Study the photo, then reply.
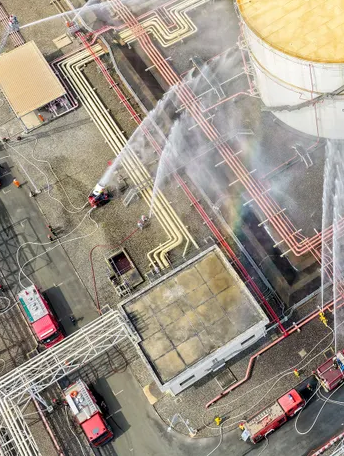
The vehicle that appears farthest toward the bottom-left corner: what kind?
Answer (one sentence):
It turns out the vehicle that appears farthest toward the bottom-left corner is a truck.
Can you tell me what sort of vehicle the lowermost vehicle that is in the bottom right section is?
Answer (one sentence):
I'd identify the lowermost vehicle that is in the bottom right section as a truck.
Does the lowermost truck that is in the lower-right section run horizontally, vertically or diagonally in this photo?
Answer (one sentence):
What the image shows is the lowermost truck that is in the lower-right section lying diagonally.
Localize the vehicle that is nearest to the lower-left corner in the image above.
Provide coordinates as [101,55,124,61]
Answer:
[64,380,115,455]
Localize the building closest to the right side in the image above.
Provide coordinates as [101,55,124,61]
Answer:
[119,246,267,391]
